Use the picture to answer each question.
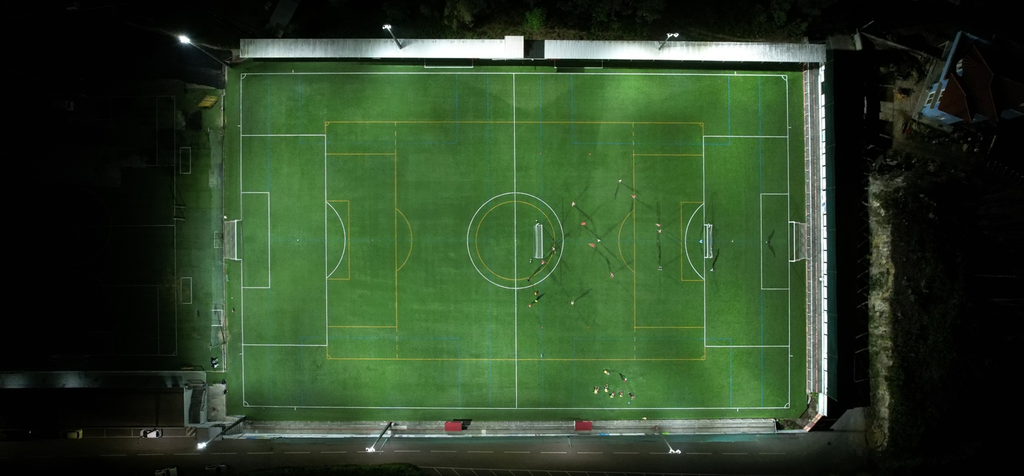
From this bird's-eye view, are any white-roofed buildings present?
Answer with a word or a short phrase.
No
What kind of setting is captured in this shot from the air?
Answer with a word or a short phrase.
sports ground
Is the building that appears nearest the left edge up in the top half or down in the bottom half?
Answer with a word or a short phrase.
bottom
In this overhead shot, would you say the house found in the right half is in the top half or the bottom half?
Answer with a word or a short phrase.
top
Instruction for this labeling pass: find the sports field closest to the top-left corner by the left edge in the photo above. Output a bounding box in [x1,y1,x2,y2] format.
[0,88,224,371]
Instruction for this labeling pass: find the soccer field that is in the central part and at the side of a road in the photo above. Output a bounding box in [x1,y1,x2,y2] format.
[225,60,806,422]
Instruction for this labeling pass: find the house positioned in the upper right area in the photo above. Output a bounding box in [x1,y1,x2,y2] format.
[925,31,1024,128]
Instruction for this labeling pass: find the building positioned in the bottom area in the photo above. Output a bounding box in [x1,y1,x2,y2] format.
[0,385,191,426]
